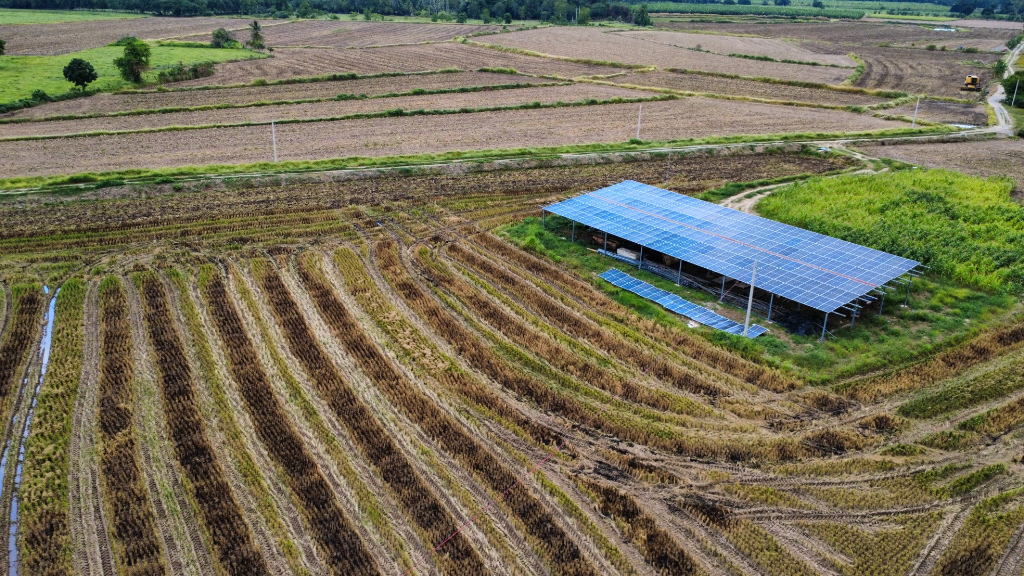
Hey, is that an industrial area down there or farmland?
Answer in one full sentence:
This image shows farmland.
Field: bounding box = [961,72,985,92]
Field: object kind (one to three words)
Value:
work vehicle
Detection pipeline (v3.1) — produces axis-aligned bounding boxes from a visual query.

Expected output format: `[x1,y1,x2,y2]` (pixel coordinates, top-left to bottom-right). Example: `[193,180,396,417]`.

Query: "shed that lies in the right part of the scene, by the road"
[539,178,935,347]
